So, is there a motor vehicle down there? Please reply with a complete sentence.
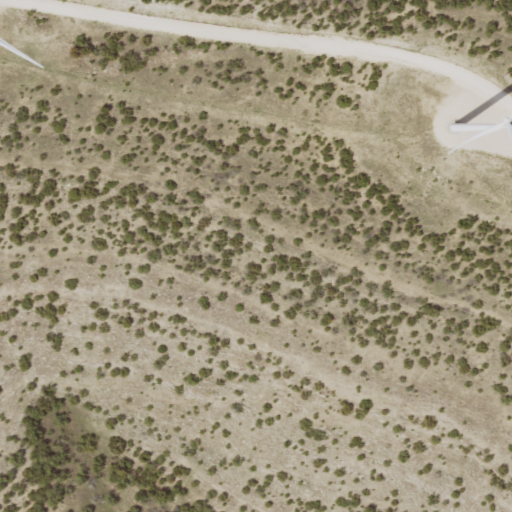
No, I find no motor vehicle anywhere in the image.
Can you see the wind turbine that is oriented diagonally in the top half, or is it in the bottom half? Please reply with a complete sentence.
The top half of the photo is where the wind turbine that is oriented diagonally is.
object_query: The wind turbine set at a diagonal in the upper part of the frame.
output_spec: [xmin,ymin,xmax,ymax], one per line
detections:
[0,36,43,68]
